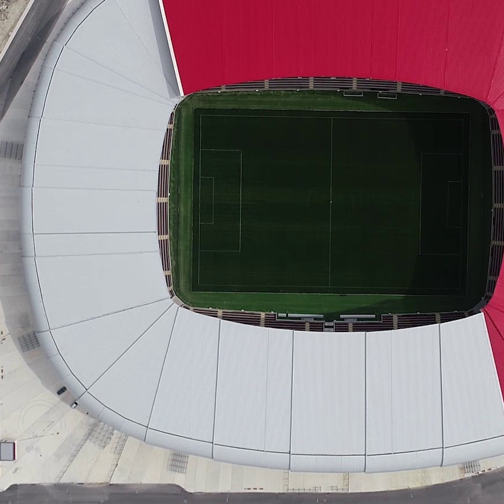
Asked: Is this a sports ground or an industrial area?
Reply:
sports ground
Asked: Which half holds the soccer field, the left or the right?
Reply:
right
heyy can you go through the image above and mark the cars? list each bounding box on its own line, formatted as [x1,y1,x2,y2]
[70,399,78,410]
[55,387,67,395]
